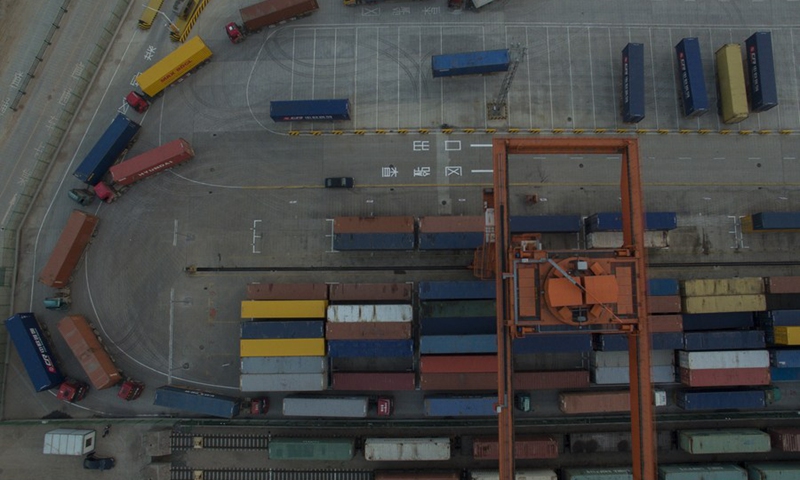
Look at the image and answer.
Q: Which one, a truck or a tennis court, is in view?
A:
truck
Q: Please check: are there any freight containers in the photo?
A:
Yes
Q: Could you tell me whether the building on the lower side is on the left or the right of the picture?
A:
left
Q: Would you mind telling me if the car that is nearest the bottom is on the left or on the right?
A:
left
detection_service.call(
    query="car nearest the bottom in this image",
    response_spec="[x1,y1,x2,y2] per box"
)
[83,451,116,472]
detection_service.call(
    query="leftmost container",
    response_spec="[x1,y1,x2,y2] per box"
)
[5,312,62,394]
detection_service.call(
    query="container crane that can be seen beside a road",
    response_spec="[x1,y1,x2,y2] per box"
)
[467,138,664,480]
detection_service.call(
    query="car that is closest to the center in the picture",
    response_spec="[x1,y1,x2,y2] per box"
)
[324,175,354,189]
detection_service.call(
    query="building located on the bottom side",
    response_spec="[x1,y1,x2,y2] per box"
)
[44,430,95,455]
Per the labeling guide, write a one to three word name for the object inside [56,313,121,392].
shipping container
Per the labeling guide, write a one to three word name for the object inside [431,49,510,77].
shipping container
